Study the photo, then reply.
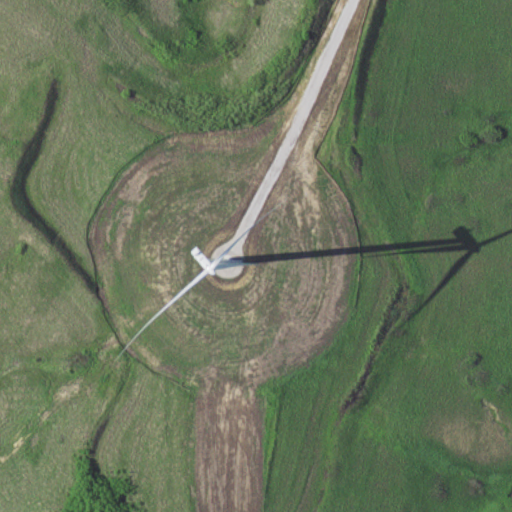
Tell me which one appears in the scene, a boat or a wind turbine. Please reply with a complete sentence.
The image shows a wind turbine.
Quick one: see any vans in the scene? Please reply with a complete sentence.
No, I can see no van in this picture.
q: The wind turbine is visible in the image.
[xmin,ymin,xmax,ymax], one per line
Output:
[114,205,278,366]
